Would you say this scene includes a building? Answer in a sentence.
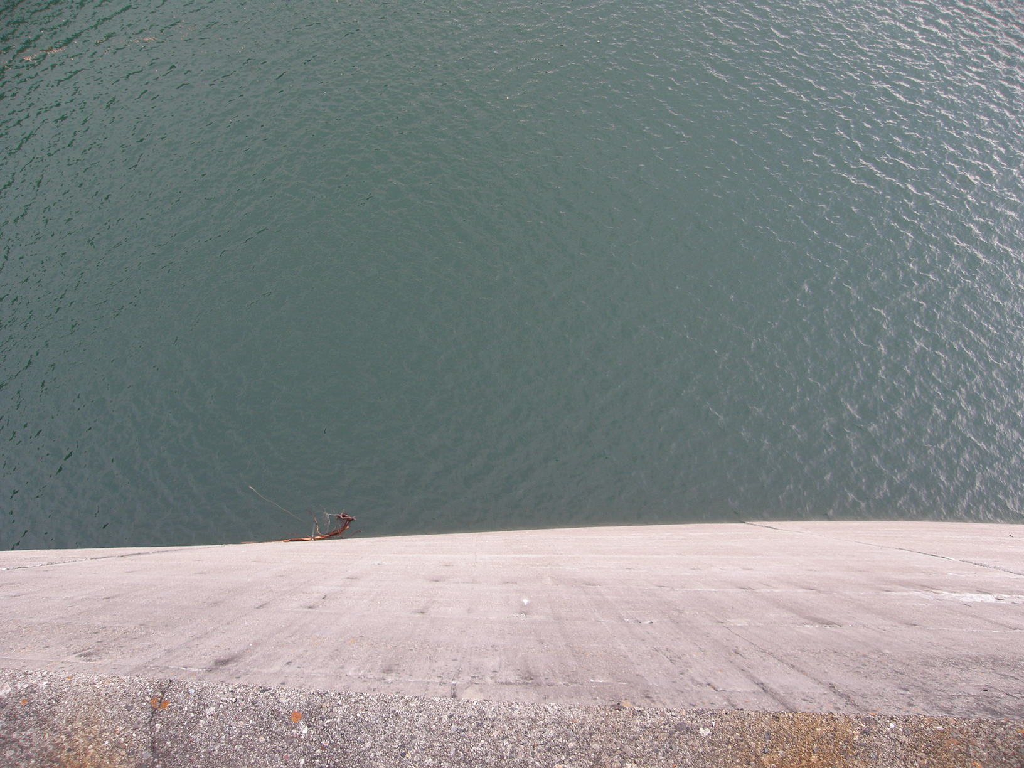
No, there's no building here.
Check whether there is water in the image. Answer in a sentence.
Yes, there's water in this view.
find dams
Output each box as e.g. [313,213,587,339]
[0,520,1024,768]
